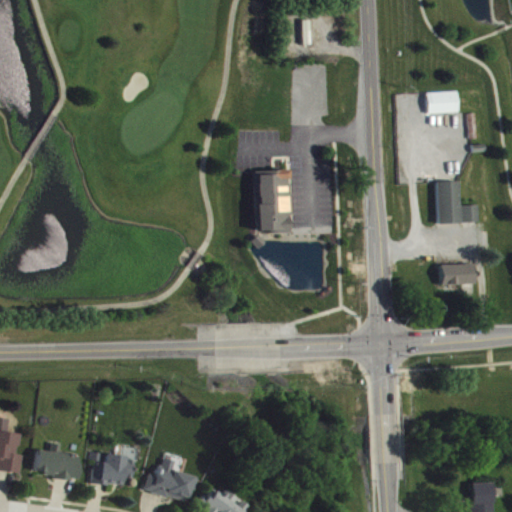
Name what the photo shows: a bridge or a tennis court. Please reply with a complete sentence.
This aerial view contains a bridge.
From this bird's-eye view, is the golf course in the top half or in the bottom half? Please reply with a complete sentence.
You can find the golf course in the top half.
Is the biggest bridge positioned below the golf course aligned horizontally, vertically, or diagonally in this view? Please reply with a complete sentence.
The biggest bridge positioned below the golf course is oriented horizontally.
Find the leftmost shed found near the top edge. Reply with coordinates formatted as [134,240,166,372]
[300,18,312,46]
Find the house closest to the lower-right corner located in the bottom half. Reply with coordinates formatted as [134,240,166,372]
[470,482,504,512]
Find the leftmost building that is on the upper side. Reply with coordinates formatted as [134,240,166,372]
[255,170,293,232]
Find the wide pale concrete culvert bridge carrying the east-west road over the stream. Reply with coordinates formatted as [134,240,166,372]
[186,322,303,374]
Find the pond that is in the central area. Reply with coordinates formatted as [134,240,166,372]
[252,240,324,290]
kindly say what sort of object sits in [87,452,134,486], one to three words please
house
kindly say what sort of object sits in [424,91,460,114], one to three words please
building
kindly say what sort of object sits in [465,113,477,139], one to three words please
shed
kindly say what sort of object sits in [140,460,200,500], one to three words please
house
